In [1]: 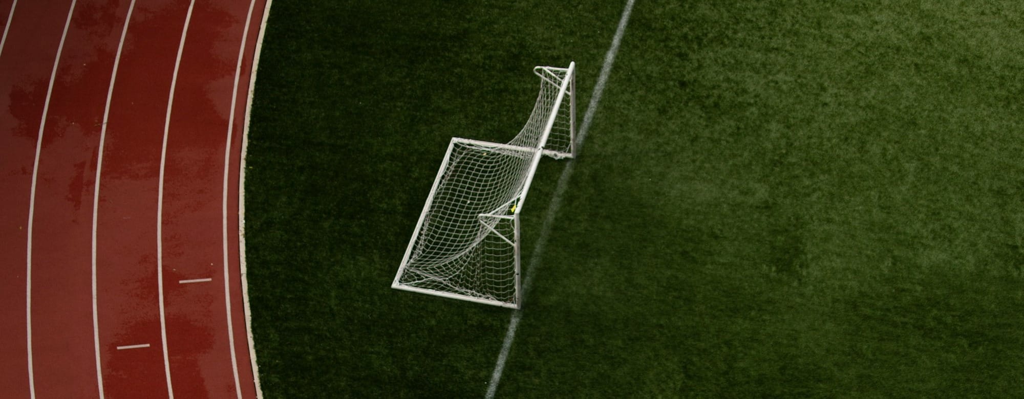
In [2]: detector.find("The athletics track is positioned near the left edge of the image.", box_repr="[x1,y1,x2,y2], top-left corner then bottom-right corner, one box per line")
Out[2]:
[0,0,266,399]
